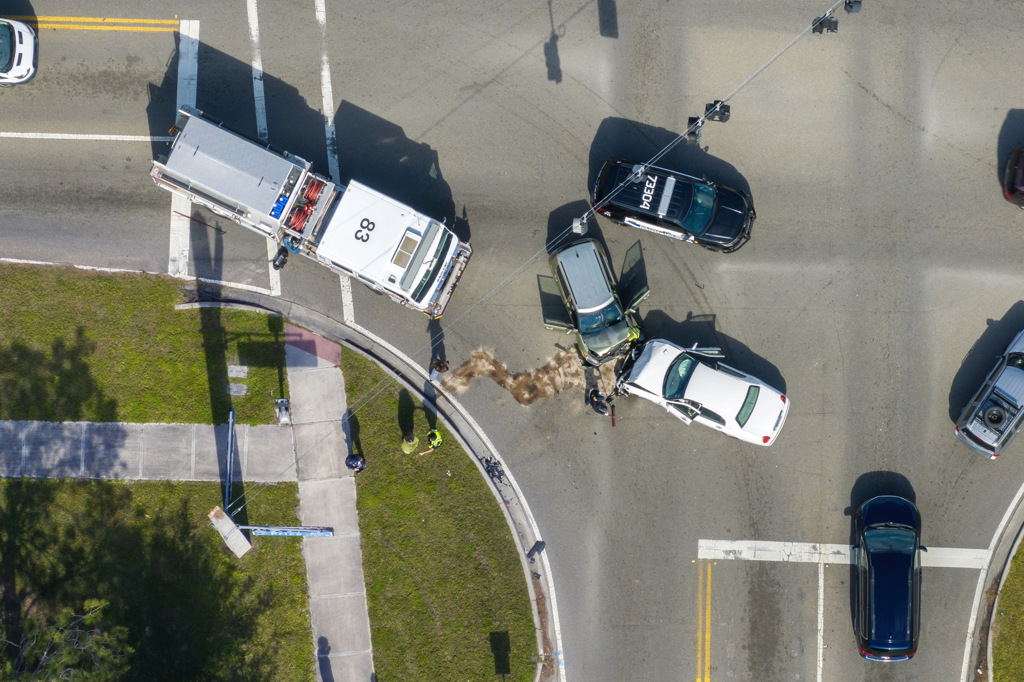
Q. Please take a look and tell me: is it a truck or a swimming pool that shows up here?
truck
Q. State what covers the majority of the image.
paved ground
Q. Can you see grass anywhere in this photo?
Yes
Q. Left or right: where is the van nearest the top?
left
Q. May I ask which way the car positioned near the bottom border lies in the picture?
up and down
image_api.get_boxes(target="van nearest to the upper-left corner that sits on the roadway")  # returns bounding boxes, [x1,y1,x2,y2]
[0,9,40,85]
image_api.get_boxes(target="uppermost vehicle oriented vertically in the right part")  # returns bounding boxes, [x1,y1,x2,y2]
[997,148,1024,213]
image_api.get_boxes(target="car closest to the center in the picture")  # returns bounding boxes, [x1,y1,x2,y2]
[536,233,646,376]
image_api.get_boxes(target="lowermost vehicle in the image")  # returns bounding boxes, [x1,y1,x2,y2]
[852,494,925,662]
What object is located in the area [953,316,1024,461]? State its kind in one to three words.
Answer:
car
